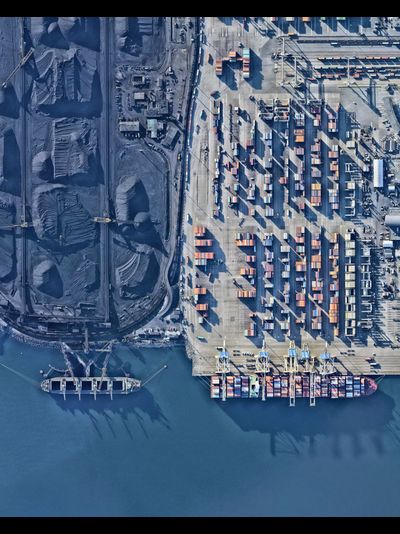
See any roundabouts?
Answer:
No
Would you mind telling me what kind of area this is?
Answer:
port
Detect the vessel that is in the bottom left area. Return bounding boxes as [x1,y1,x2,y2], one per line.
[41,377,141,401]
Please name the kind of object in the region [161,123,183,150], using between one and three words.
building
